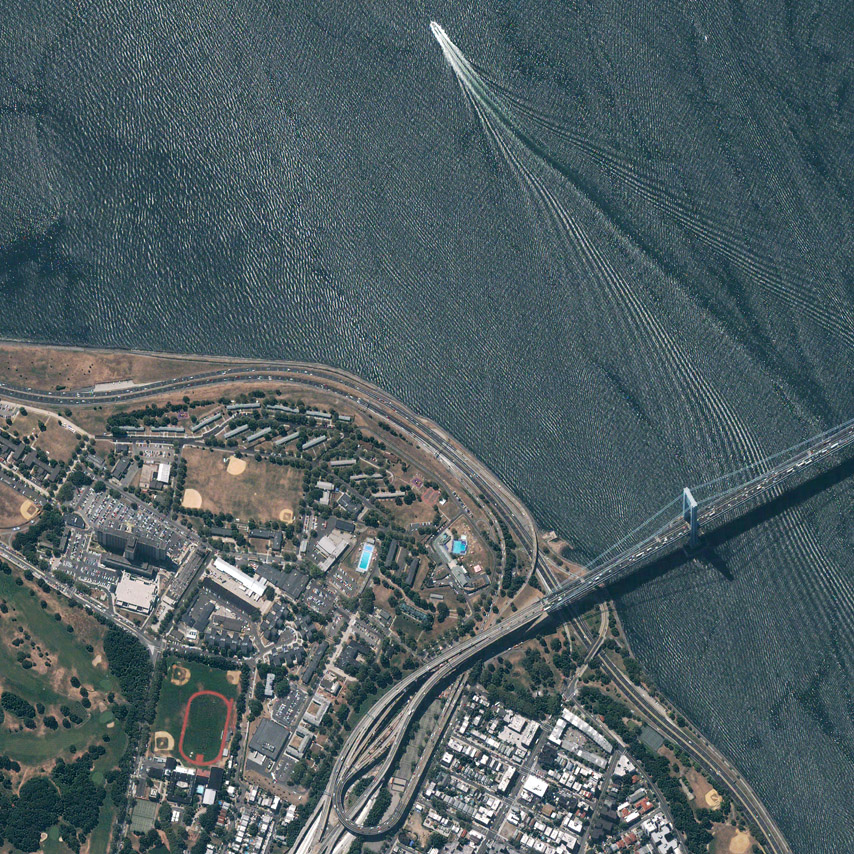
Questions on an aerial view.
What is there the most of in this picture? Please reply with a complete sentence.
The scene is dominated by water.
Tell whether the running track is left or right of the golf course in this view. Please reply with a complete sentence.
Looking at the photo, the running track lies to the right of the golf course.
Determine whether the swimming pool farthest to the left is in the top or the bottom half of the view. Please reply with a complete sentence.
The swimming pool farthest to the left is in the bottom half of the image.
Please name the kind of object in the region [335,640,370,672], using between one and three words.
building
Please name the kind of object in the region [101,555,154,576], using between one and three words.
building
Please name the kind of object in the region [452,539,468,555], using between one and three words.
swimming pool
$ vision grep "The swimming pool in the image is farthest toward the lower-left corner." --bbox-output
[355,539,375,574]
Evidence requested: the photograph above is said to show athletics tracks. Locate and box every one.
[179,690,236,766]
